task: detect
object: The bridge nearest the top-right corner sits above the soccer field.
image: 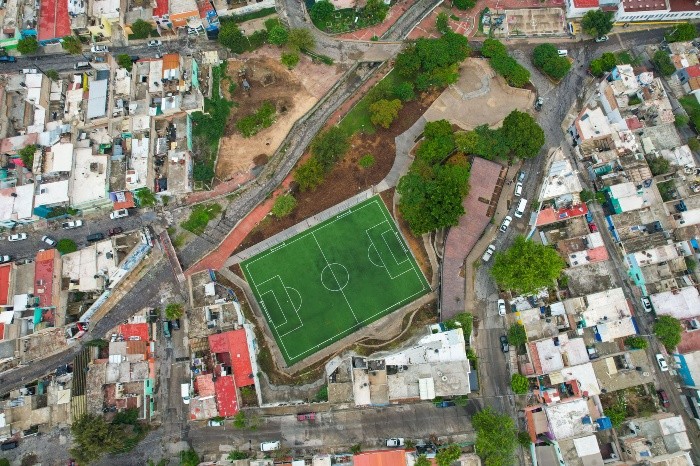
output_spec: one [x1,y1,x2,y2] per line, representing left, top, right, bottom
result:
[357,38,405,64]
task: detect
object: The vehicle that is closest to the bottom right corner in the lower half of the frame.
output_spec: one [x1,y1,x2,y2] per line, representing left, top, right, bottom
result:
[656,387,671,409]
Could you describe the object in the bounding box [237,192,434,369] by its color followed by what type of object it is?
green soccer field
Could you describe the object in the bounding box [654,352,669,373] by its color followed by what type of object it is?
white car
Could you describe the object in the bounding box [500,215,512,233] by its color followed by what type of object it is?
white vehicle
